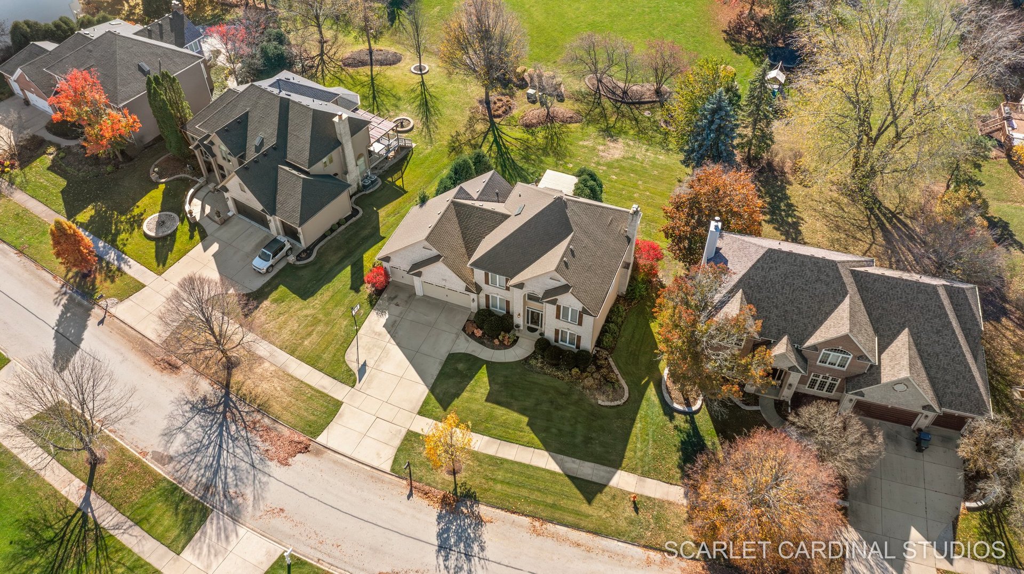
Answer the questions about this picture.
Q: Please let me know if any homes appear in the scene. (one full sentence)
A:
Yes, the picture does show a home.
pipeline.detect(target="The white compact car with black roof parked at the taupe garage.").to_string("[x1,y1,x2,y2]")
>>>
[251,233,294,271]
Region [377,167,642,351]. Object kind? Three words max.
house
